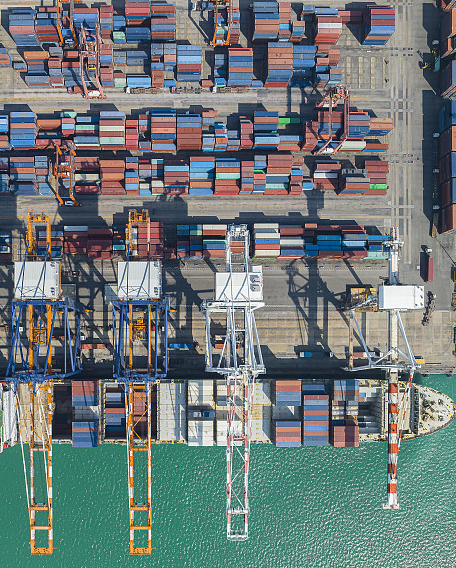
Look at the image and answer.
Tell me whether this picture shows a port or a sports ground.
port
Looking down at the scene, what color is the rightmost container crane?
white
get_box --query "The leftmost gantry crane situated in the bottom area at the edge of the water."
[6,210,93,555]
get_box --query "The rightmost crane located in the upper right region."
[315,88,349,155]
